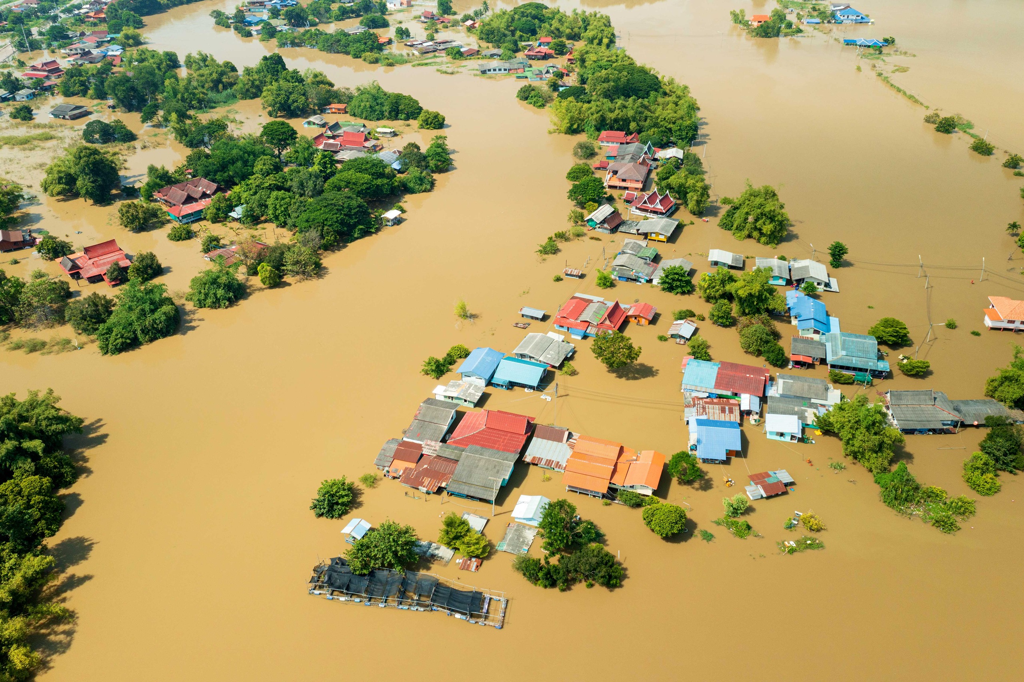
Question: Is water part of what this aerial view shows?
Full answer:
Yes, there is water in the image.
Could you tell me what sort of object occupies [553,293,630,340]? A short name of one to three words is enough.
house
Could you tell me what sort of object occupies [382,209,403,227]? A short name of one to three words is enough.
gazebo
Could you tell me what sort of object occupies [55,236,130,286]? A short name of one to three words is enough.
house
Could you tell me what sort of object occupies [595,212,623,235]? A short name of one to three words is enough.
shed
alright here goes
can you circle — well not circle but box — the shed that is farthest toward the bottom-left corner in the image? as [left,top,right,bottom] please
[341,519,371,546]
